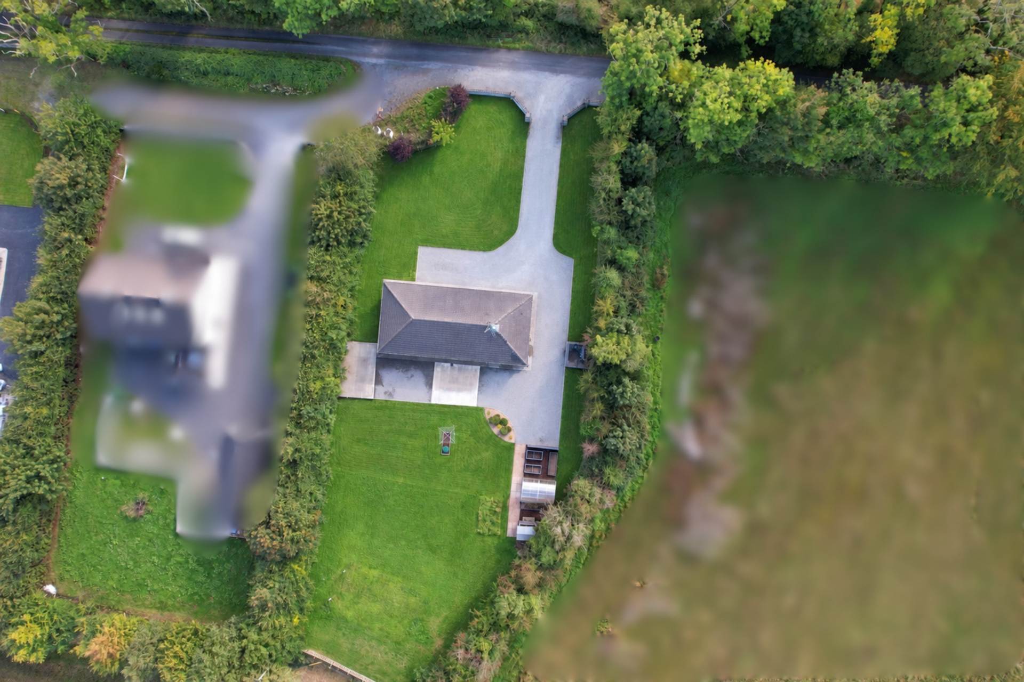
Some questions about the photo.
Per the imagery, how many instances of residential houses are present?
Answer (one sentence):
The picture shows 2 residential houses.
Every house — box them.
[376,280,535,368]
[75,243,212,345]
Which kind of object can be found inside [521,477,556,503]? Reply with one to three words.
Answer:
greenhouse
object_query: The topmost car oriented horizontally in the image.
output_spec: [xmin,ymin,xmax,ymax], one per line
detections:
[162,227,202,246]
